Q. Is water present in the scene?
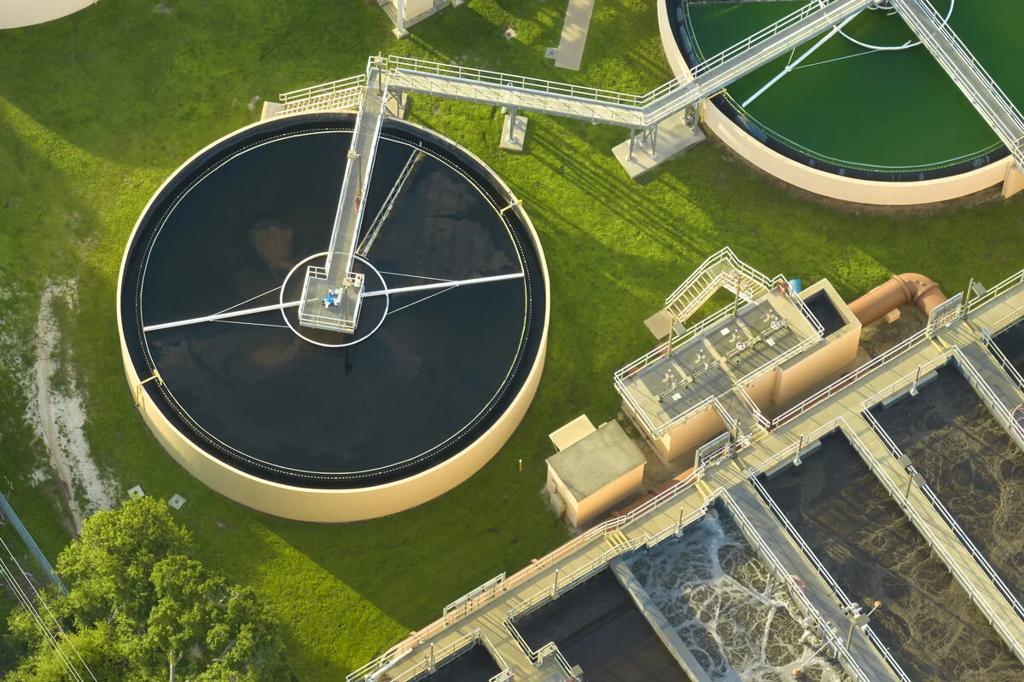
Yes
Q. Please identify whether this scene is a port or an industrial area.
industrial area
